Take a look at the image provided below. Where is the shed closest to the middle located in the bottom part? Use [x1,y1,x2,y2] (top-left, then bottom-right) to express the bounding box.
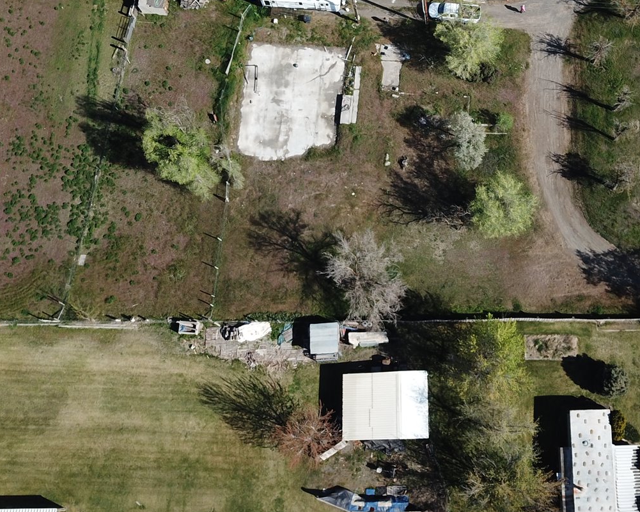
[309,323,340,355]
